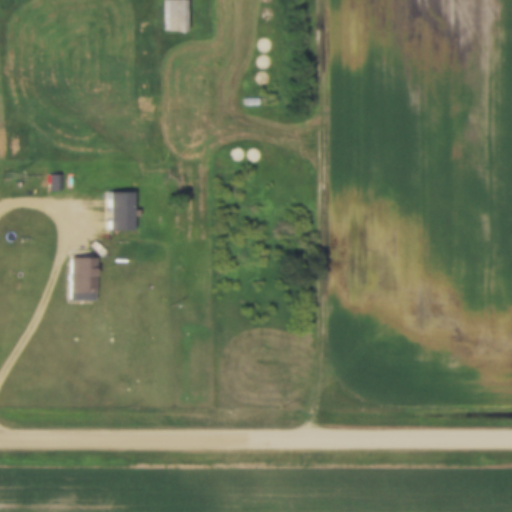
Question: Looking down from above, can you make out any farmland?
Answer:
Yes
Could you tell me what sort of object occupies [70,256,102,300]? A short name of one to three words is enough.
house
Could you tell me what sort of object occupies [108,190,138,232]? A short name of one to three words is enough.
shed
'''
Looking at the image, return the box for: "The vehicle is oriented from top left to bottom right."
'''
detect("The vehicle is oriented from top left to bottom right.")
[92,242,106,258]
